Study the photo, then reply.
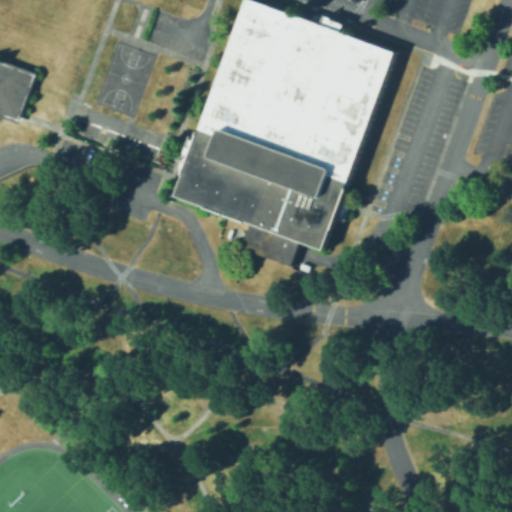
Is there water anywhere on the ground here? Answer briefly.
No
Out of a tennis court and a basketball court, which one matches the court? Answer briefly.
basketball court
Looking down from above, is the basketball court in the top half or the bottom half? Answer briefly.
top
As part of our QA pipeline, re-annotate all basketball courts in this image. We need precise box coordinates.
[98,42,157,118]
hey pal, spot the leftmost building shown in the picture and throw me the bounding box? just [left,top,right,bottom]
[0,62,36,122]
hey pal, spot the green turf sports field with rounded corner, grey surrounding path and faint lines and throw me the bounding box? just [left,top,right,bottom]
[0,442,132,512]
